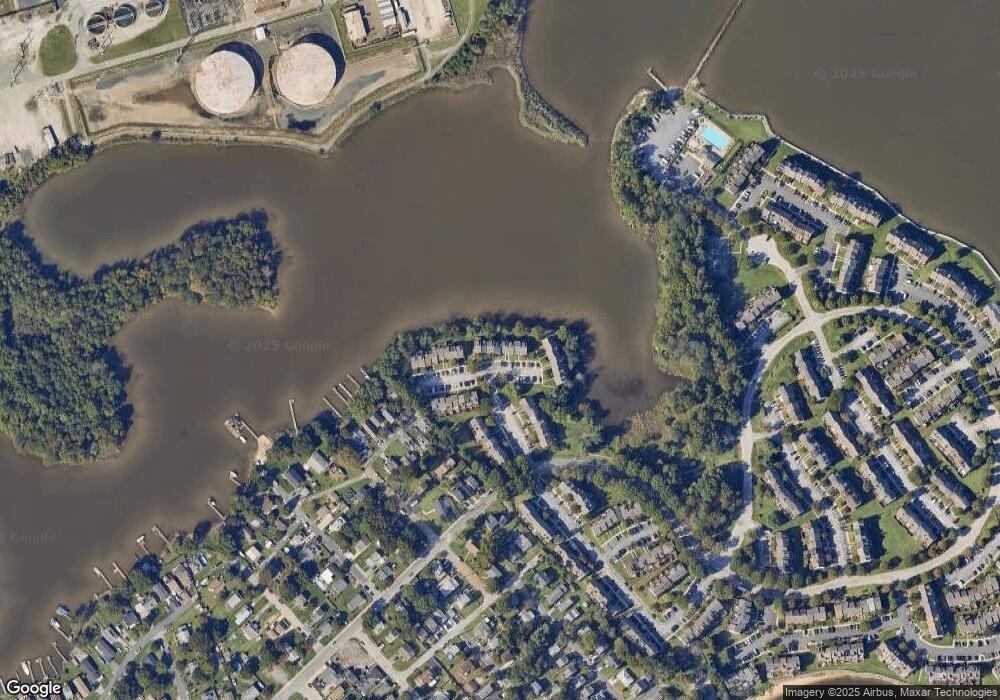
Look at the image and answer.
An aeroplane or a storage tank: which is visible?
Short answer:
storage tank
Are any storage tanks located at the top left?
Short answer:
Yes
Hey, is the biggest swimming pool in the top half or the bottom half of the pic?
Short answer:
top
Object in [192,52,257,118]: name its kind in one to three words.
storage tank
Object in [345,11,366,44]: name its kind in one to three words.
building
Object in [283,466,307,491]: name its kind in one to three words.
house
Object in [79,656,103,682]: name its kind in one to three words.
house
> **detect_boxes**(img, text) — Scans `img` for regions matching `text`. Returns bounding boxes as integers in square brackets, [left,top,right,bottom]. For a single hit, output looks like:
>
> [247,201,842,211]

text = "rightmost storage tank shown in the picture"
[273,43,339,110]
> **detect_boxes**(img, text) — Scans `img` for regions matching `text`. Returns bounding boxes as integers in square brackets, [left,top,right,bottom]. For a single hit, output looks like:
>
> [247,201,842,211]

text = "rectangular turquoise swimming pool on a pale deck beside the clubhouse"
[696,119,735,156]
